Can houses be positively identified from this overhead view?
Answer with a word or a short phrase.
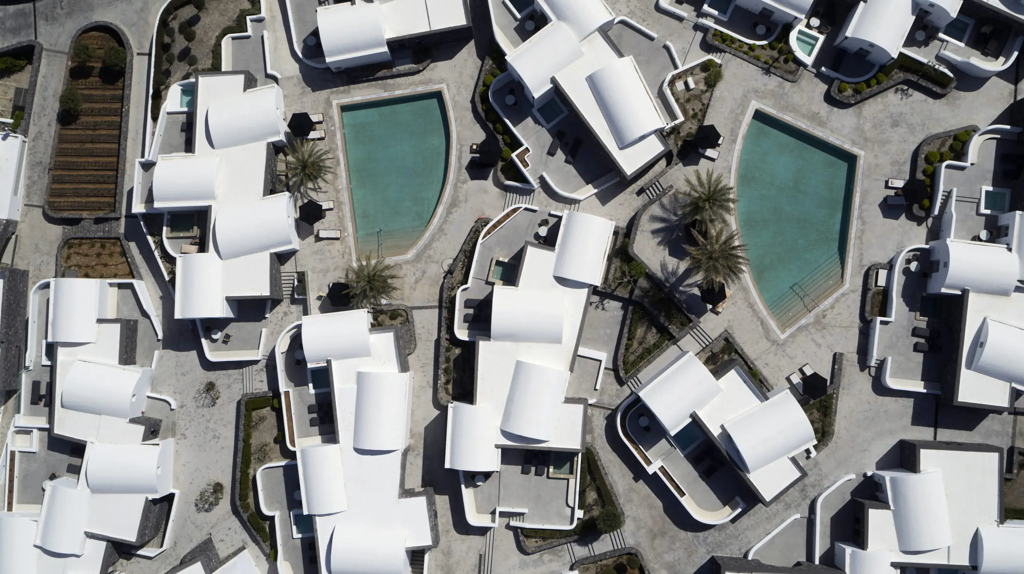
Yes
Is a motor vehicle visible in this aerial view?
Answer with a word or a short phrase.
No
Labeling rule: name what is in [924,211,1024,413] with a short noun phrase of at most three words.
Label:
house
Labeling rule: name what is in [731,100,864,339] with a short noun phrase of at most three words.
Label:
swimming pool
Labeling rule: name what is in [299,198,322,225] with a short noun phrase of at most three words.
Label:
umbrella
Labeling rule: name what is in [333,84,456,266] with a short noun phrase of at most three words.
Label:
swimming pool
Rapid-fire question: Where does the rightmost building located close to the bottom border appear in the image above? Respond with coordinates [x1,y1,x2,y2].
[831,436,1024,574]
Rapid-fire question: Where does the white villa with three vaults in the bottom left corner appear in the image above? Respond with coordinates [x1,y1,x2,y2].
[0,439,177,574]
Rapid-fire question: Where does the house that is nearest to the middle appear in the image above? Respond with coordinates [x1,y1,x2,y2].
[445,211,615,472]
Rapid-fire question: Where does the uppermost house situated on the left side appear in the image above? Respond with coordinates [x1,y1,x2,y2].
[317,0,474,71]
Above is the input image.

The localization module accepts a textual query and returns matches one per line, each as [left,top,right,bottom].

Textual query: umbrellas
[899,178,928,205]
[801,372,826,400]
[699,281,725,307]
[287,113,314,137]
[479,141,505,165]
[328,284,354,308]
[299,198,322,225]
[692,125,720,151]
